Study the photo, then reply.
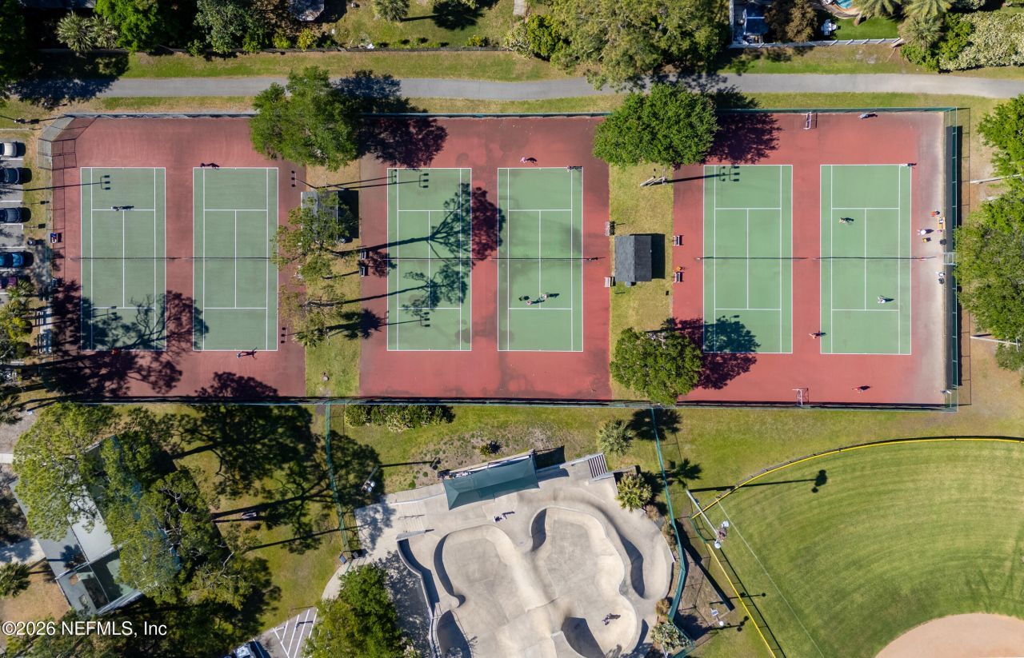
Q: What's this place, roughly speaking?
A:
sports ground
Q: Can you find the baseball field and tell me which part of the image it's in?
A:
bottom right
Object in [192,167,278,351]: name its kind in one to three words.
tennis court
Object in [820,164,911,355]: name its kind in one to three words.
tennis court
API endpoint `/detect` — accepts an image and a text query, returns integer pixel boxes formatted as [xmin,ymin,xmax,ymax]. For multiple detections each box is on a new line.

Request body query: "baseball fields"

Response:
[693,440,1024,658]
